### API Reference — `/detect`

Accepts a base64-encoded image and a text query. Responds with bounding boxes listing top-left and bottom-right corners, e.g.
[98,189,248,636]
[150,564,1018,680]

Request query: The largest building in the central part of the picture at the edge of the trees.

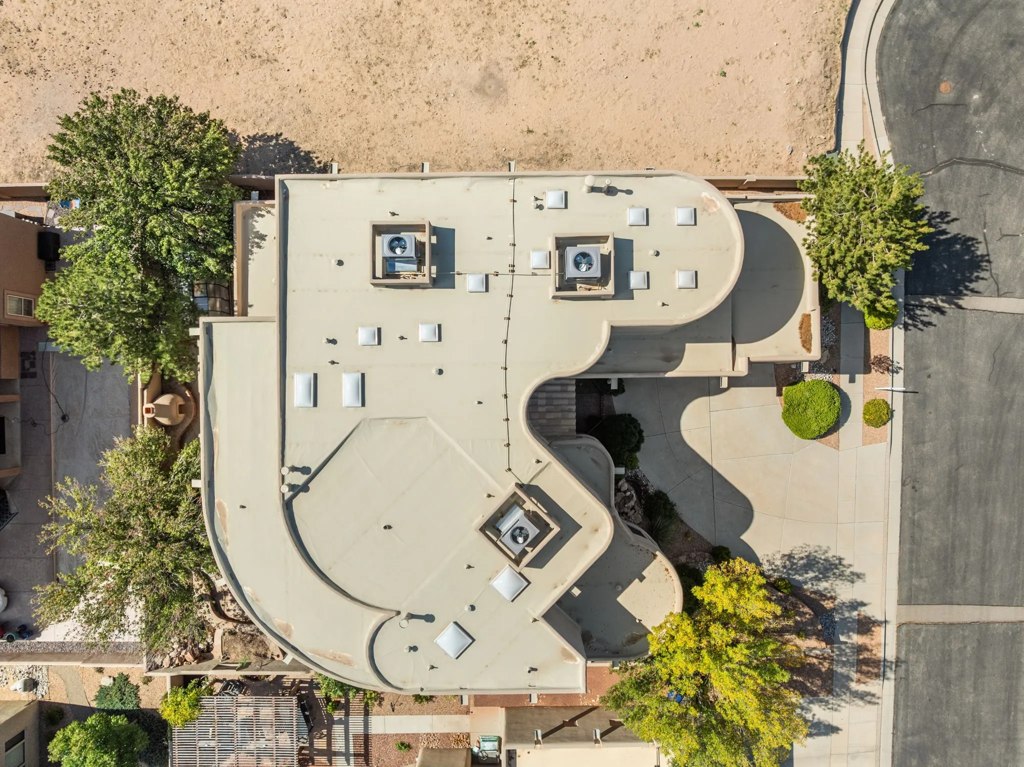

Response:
[188,159,820,706]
